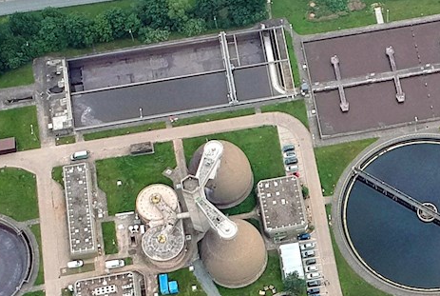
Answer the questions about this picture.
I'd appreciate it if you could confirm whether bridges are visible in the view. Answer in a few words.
Yes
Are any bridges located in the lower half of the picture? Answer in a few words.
Yes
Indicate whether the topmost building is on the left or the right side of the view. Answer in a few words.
left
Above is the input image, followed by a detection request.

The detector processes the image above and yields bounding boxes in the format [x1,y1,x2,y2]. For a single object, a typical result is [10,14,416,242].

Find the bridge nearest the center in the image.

[199,134,226,182]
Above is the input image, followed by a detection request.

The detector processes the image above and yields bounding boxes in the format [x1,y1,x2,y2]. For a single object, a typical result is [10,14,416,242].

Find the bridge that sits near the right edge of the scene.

[351,164,440,220]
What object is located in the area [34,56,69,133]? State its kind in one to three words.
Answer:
building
